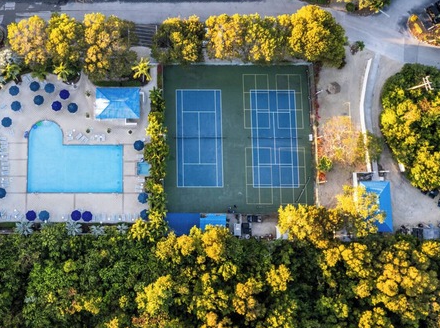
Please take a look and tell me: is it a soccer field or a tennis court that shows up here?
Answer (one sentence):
Of the two, only a tennis court appears.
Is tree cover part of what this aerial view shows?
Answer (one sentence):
Yes, tree cover shows up in the scene.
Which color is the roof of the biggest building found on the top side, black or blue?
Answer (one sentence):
The color of the roof of the biggest building found on the top side is blue.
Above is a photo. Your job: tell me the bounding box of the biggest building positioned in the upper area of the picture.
[96,87,144,126]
